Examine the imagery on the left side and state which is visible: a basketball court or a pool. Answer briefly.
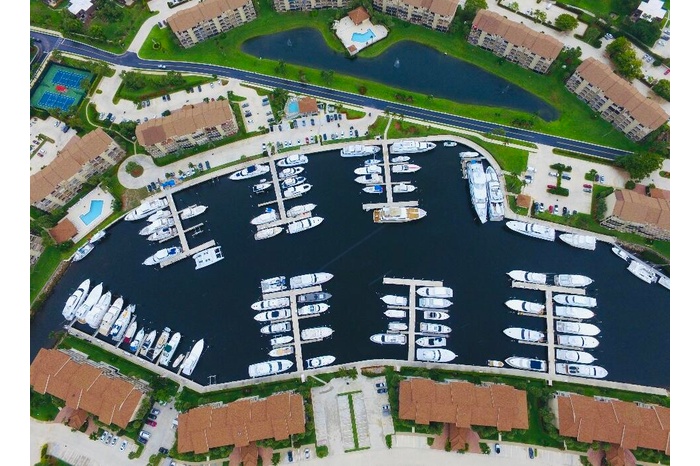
pool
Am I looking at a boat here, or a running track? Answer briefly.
boat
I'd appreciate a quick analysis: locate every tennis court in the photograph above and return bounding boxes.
[37,91,76,111]
[51,69,87,90]
[31,63,92,107]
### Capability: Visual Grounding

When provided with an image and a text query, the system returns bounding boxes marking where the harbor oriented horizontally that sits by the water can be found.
[0,135,700,396]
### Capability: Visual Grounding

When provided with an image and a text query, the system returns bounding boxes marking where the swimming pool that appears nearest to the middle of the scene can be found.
[284,97,304,119]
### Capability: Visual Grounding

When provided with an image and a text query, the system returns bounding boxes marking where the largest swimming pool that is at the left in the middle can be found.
[57,182,114,241]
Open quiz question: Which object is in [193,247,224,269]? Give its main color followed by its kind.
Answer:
white boat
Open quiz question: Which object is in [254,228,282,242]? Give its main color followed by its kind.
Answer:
white boat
